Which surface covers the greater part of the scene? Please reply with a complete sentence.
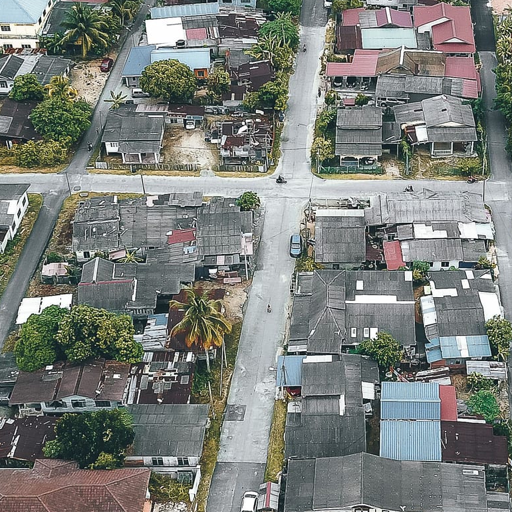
What you mostly see from above here is buildings.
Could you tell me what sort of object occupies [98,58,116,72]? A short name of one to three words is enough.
car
